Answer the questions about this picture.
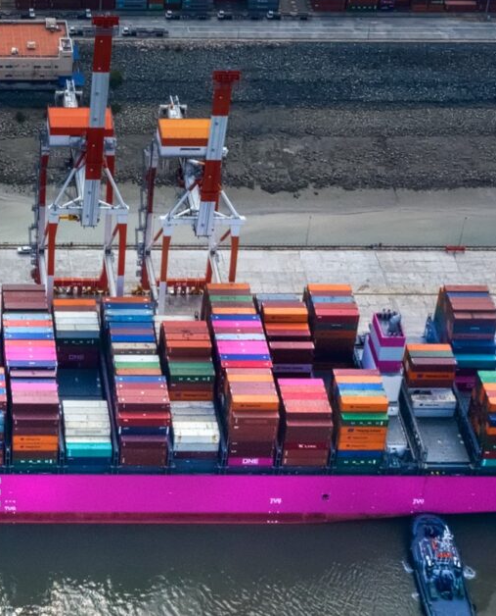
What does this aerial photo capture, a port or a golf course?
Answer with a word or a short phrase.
port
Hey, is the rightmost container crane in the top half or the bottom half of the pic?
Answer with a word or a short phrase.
top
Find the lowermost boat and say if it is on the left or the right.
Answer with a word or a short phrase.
right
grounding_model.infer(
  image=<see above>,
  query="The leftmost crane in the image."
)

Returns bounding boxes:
[24,13,127,329]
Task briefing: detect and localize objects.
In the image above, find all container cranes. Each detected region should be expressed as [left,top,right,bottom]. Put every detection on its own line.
[24,13,127,329]
[130,69,245,316]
